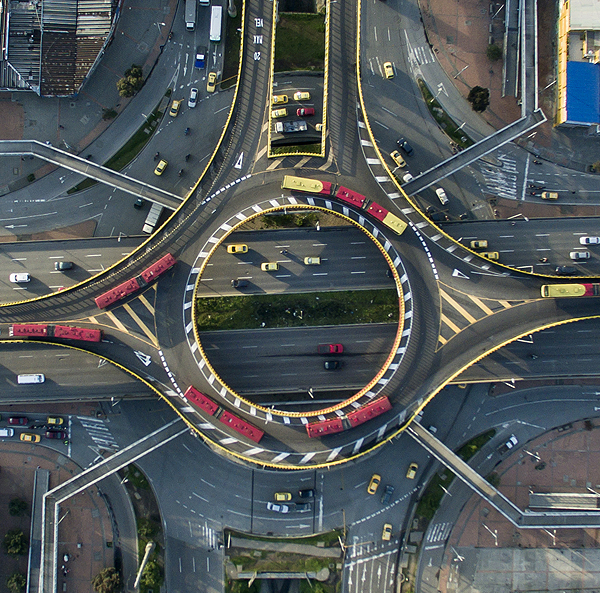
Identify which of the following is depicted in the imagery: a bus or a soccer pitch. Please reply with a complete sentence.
Of the two, only a bus appears.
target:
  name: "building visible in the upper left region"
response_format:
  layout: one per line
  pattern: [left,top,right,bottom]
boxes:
[0,0,118,97]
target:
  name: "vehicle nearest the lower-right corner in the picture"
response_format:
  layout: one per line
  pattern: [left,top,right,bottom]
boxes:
[497,434,519,453]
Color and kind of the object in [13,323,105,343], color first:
red bus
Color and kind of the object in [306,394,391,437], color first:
red bus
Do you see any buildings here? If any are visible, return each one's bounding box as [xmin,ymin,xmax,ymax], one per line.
[557,0,600,129]
[0,0,118,97]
